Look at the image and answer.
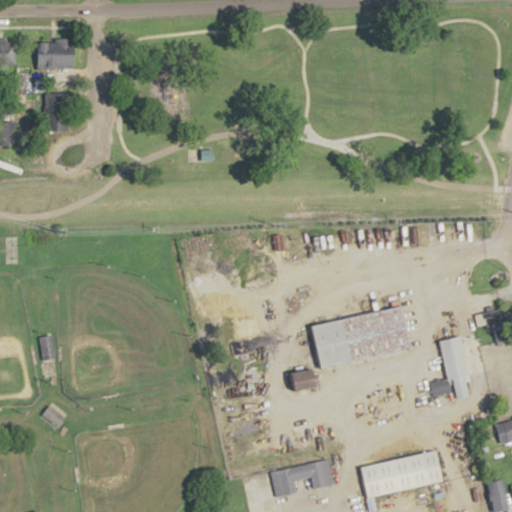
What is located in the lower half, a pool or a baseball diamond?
baseball diamond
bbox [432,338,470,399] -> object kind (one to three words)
shed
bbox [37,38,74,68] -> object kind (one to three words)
house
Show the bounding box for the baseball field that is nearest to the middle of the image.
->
[58,267,196,405]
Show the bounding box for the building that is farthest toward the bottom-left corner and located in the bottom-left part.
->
[40,404,66,428]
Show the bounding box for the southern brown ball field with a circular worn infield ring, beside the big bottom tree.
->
[76,417,197,512]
